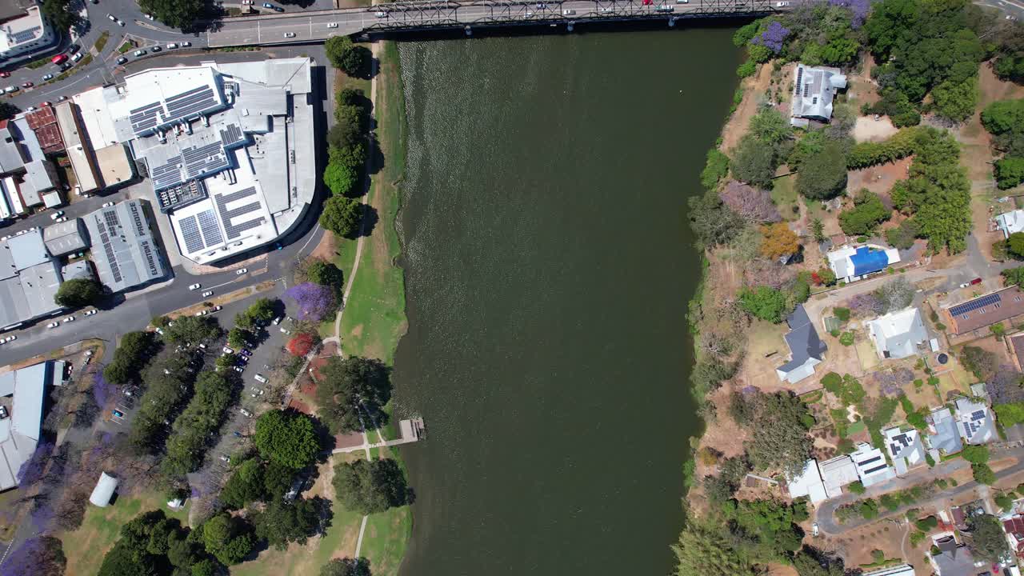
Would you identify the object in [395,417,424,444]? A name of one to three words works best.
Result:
pier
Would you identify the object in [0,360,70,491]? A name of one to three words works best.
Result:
building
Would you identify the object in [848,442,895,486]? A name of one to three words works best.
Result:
house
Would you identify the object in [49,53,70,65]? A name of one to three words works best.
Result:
vehicle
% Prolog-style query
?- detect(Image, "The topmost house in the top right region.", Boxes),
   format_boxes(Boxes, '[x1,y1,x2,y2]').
[788,66,847,127]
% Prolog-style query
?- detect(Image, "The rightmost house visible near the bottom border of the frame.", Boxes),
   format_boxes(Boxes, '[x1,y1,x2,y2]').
[996,508,1024,565]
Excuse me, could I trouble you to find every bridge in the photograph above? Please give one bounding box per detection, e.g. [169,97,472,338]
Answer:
[188,0,875,49]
